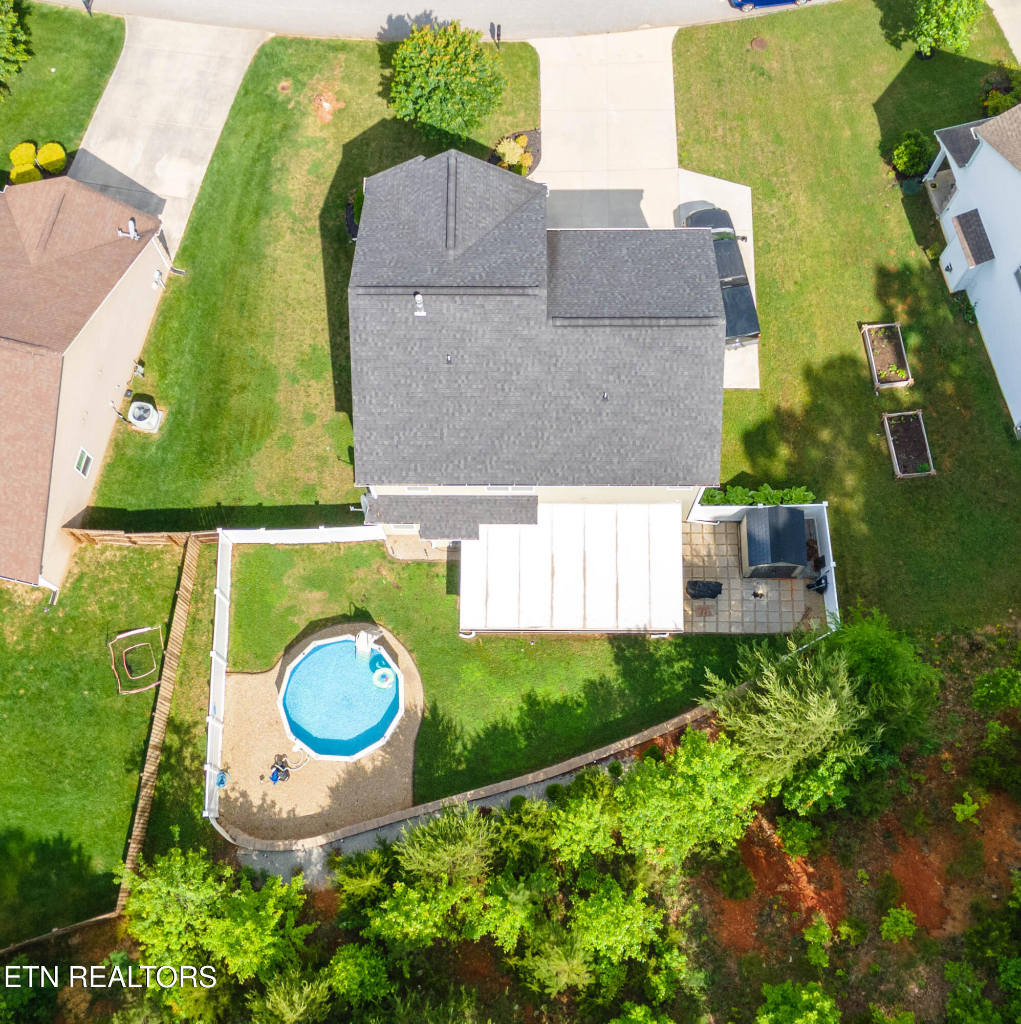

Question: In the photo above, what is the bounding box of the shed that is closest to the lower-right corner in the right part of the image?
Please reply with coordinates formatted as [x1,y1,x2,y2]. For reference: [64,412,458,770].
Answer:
[737,505,807,577]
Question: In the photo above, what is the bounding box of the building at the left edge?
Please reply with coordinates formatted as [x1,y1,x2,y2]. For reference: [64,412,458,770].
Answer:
[0,176,175,598]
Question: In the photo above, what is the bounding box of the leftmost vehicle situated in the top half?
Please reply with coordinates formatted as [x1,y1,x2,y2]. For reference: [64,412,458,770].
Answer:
[683,205,767,352]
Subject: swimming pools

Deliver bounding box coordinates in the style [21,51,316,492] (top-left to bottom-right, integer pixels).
[276,635,408,768]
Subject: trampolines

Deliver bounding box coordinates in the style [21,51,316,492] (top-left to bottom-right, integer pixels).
[109,624,165,694]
